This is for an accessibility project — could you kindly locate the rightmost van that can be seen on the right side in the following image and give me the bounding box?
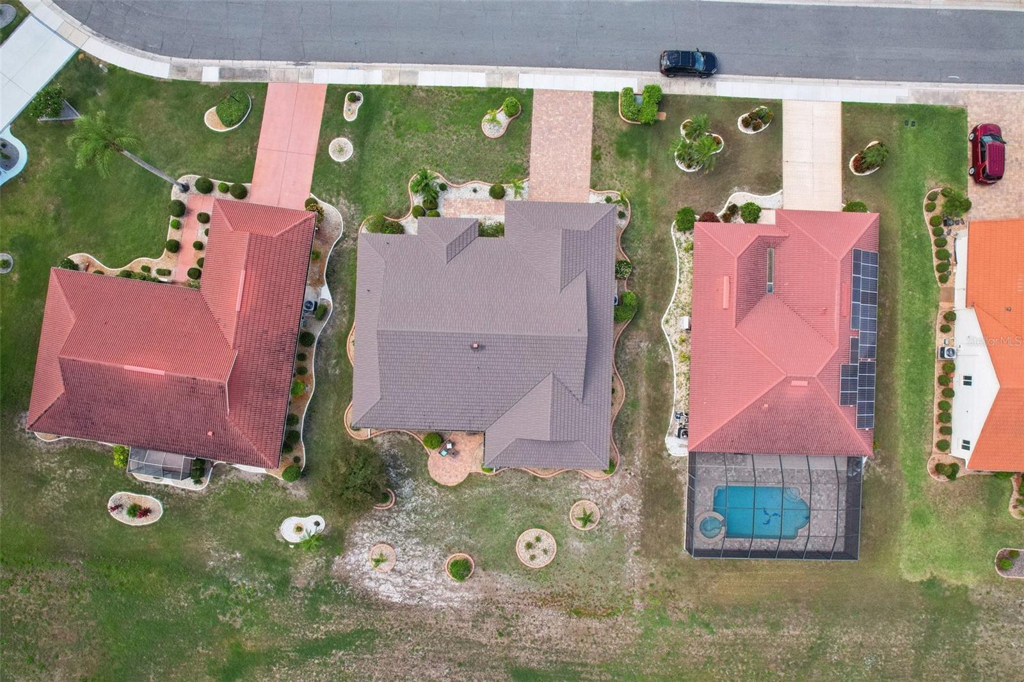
[968,124,1003,186]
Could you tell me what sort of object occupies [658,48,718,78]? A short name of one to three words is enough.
car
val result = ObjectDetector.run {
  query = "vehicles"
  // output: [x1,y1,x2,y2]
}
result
[658,48,718,78]
[968,124,1003,186]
